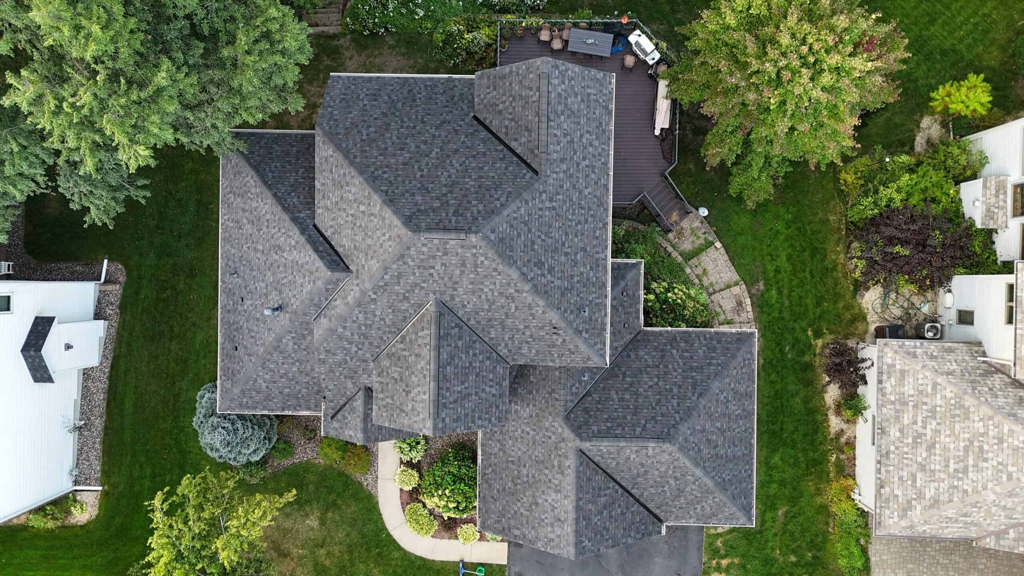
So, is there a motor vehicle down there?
No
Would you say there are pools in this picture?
No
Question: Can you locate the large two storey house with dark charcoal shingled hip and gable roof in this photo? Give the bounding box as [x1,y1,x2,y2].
[216,55,758,561]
